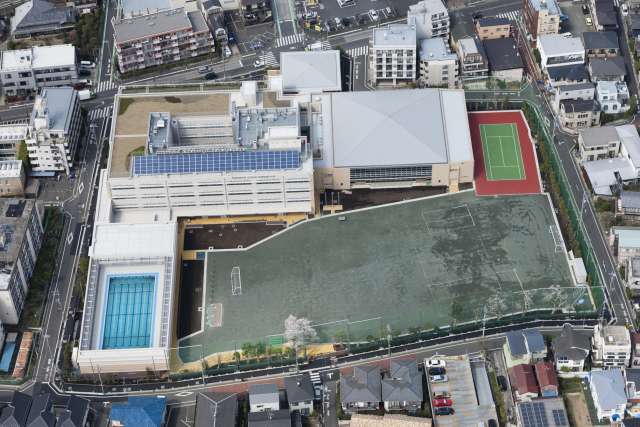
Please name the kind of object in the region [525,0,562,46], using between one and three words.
building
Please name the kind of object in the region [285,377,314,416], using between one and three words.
house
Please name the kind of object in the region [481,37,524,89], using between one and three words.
building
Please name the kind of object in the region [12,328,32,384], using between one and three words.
shed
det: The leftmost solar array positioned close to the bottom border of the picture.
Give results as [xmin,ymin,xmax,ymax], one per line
[520,401,546,427]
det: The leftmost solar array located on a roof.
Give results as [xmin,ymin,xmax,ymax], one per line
[133,150,299,174]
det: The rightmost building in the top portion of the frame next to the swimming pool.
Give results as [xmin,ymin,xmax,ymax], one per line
[94,69,322,246]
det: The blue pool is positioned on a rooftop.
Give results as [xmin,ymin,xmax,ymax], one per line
[99,274,159,348]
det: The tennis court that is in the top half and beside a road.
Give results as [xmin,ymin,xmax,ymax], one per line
[468,108,541,195]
